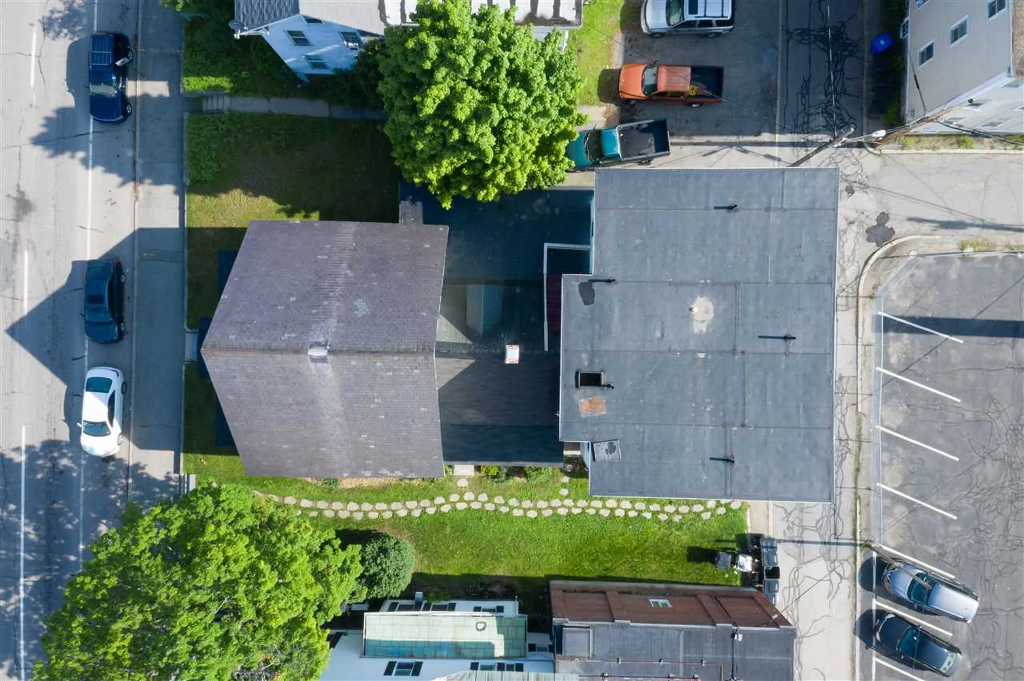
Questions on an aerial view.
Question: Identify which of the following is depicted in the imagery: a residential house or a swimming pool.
residential house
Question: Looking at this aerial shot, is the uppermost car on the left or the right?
right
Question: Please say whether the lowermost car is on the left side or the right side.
right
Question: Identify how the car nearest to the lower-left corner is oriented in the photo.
from top to bottom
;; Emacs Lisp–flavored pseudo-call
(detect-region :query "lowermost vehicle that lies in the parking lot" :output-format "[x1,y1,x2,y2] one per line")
[872,615,963,677]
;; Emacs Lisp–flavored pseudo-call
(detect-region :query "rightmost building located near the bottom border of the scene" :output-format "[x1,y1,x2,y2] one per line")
[549,578,797,681]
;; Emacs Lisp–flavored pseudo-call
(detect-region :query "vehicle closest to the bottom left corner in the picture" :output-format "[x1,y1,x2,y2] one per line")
[76,366,124,456]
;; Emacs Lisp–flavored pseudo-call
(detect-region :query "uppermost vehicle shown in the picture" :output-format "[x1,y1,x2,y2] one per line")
[642,0,732,36]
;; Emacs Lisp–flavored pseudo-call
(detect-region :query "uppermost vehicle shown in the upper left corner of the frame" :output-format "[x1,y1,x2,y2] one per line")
[84,34,133,127]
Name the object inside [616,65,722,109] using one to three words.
truck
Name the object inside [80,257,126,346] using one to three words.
car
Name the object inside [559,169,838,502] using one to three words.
building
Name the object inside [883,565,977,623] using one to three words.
car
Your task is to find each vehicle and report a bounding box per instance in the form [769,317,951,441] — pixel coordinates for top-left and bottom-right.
[84,34,133,127]
[616,65,722,109]
[566,122,670,171]
[76,366,124,456]
[872,615,963,677]
[883,565,977,623]
[642,0,732,36]
[80,257,126,346]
